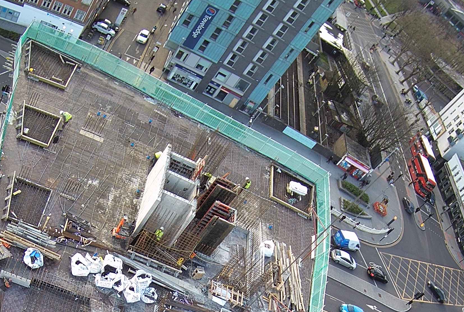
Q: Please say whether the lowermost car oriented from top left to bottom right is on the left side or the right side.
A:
right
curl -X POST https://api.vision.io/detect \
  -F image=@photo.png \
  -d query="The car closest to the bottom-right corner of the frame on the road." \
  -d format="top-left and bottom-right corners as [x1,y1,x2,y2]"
[429,280,450,301]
